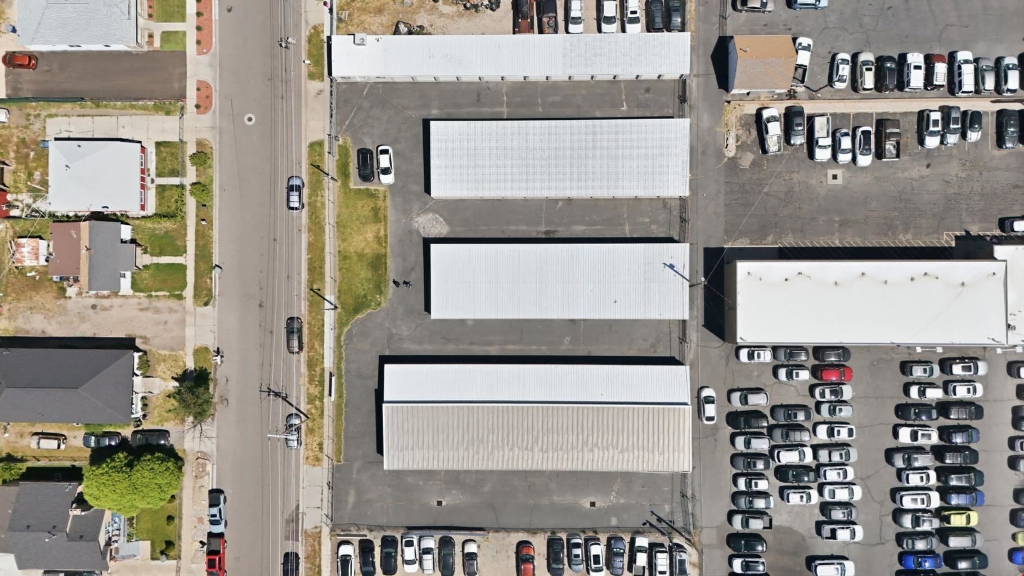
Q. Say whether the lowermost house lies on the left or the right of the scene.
left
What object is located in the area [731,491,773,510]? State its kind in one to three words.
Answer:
car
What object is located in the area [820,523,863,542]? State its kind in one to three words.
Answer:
vehicle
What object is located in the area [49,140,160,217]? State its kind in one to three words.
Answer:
house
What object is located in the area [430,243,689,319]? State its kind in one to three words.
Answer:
building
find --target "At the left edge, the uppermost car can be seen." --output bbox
[2,51,39,71]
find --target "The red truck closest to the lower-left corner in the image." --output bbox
[204,532,226,576]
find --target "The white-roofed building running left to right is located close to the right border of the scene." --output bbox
[724,261,1007,345]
